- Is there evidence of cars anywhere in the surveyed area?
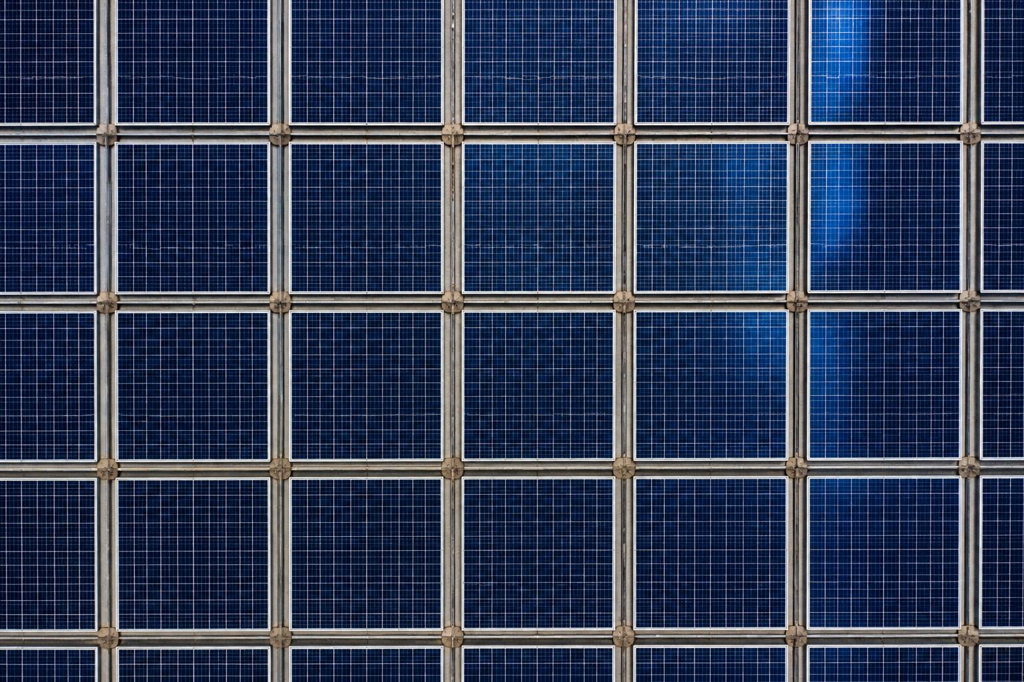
No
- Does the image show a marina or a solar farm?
solar farm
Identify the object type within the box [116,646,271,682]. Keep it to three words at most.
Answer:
solar panel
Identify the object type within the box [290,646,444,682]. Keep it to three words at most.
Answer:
solar panel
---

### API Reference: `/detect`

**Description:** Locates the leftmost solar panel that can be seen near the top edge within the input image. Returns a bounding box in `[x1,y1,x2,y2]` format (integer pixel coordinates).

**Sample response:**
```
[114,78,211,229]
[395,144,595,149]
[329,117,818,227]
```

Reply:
[0,0,97,126]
